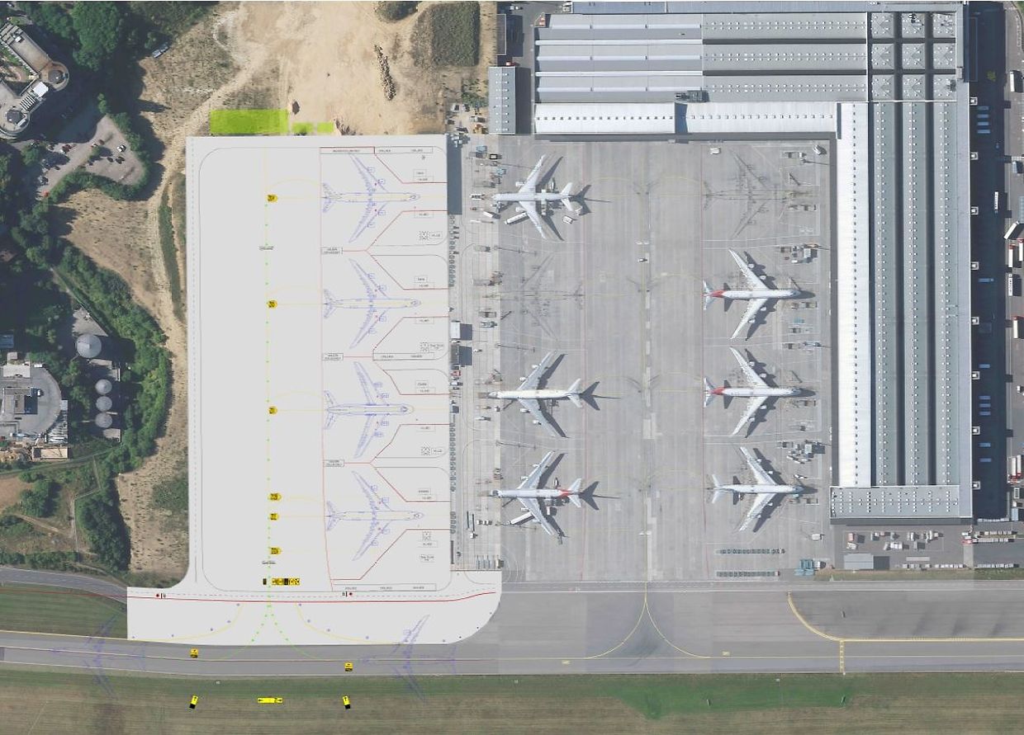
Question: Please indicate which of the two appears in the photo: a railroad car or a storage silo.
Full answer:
Of the two, only a storage silo appears.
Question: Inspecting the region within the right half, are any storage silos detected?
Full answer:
No, no storage silo appears within the right half.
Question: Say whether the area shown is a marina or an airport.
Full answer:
The area seen from above is an airport.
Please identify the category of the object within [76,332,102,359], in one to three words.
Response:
silo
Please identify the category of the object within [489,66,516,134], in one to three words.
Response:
building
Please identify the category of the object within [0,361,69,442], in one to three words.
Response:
building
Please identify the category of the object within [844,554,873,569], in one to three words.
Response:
shed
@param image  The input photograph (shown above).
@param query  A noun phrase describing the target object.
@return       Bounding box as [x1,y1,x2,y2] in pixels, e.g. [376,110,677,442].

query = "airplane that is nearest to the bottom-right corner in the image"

[712,447,804,532]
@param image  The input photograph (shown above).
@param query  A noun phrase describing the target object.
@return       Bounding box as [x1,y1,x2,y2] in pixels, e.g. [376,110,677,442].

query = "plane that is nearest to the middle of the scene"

[489,351,582,437]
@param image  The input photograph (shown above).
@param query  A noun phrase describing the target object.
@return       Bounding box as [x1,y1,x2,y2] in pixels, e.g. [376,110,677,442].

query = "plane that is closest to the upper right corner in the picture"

[704,250,801,339]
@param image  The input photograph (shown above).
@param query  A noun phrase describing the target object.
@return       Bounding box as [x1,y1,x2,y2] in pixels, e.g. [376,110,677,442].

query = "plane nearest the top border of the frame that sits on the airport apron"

[493,155,574,238]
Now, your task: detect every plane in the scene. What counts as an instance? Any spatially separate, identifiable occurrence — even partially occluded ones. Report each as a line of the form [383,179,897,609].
[704,250,801,339]
[712,447,804,532]
[491,452,584,538]
[489,351,582,437]
[705,347,802,437]
[493,155,574,238]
